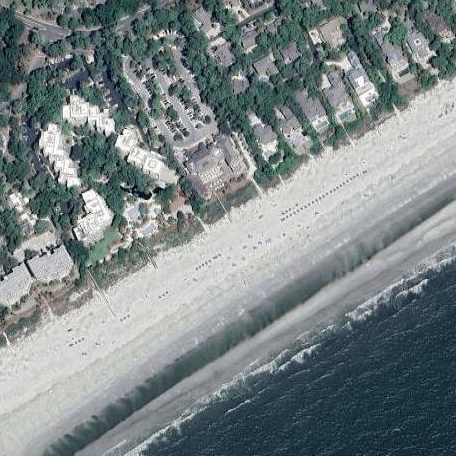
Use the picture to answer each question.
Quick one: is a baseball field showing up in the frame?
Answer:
No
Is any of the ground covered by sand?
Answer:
Yes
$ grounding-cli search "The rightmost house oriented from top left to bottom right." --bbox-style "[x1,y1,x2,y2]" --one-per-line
[425,6,453,39]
